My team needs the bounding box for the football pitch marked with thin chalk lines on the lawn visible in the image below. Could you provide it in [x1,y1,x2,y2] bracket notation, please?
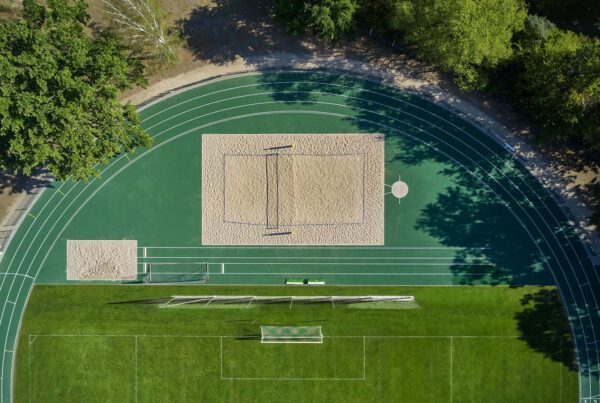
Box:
[29,336,562,403]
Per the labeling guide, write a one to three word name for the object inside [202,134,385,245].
sports court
